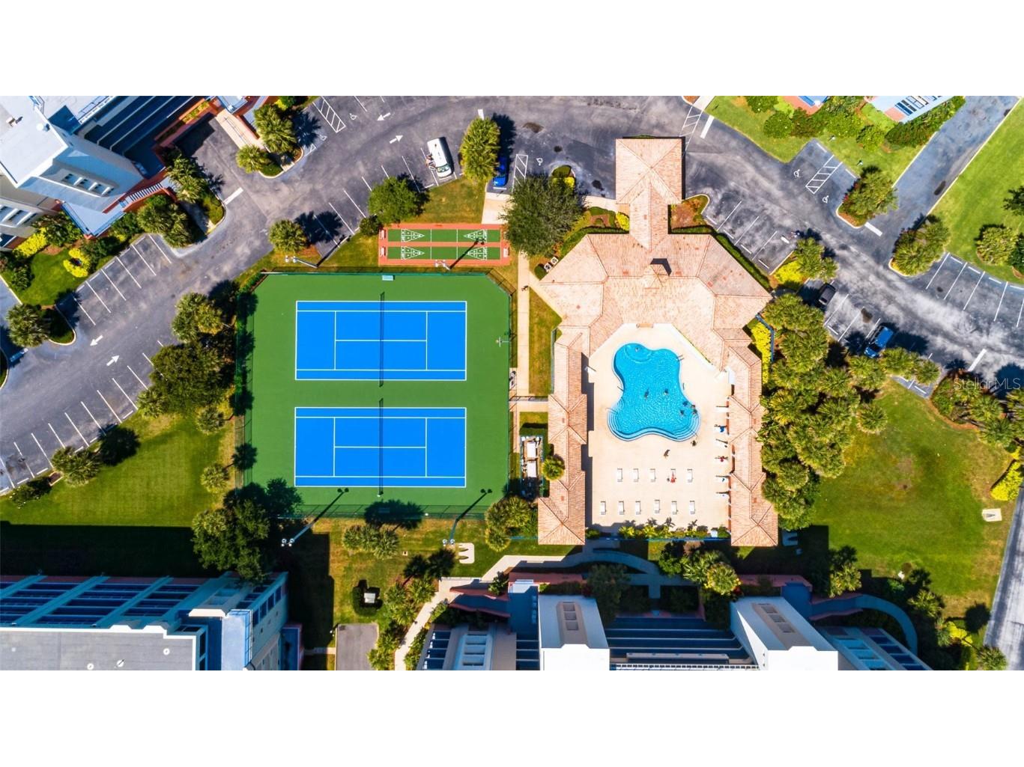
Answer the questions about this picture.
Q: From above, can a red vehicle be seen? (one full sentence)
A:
No, there isn't any red vehicle down there.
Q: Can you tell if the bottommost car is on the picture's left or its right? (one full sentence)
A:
The bottommost car appears in the right half of the scene.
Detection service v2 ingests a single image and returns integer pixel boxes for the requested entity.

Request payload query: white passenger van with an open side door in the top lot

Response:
[428,137,452,182]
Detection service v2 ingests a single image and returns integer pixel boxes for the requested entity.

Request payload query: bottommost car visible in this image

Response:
[861,325,893,358]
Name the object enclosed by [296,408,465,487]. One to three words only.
tennis court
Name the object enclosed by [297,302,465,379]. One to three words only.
tennis court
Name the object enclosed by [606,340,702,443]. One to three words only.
swimming pool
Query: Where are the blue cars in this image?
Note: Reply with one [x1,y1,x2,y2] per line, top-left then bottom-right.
[861,325,893,358]
[493,157,509,191]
